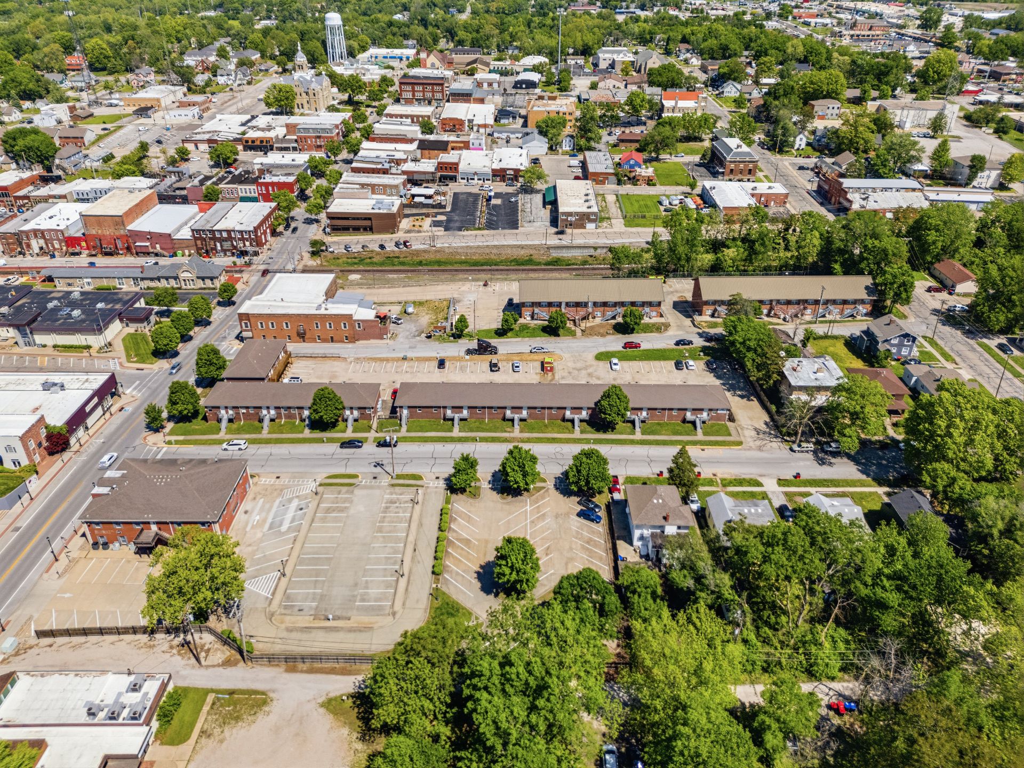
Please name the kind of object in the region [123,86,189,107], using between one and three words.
building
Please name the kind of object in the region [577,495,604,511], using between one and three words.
car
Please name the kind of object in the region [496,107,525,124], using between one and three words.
house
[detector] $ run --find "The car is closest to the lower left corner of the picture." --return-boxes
[98,452,116,468]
